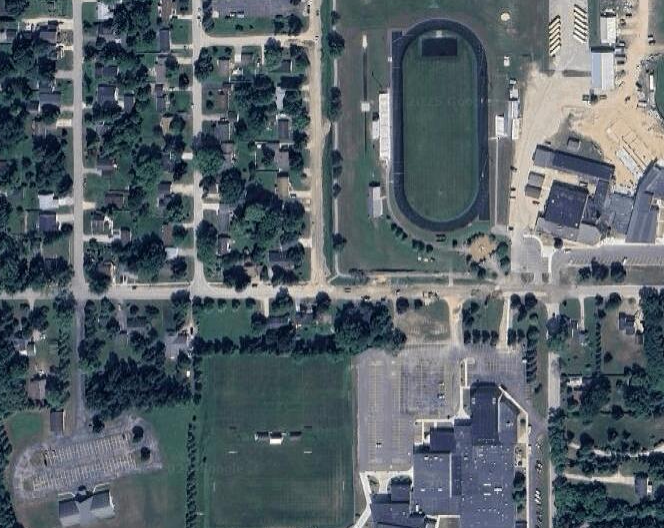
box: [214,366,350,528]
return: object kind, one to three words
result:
soccer field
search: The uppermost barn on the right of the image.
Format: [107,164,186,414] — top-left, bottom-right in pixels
[601,17,617,44]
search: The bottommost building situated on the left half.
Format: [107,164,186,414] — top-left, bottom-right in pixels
[58,488,116,528]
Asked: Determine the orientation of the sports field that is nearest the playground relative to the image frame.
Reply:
up and down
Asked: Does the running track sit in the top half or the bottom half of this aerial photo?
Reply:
top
